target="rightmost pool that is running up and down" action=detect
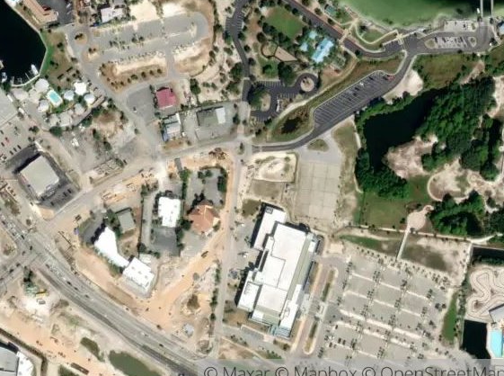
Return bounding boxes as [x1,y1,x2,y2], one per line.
[489,330,503,358]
